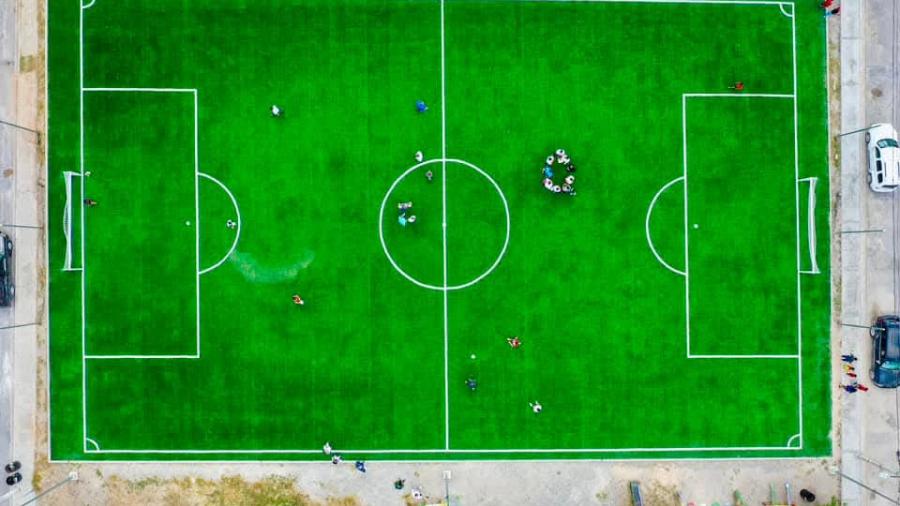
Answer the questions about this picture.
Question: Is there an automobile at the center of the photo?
No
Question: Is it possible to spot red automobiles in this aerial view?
No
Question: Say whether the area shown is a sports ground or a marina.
sports ground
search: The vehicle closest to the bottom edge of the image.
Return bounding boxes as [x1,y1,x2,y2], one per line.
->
[867,314,900,387]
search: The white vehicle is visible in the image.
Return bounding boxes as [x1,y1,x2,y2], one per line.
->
[866,125,900,194]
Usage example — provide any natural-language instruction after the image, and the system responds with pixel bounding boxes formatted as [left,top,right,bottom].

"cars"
[866,125,900,194]
[867,314,900,387]
[0,231,13,307]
